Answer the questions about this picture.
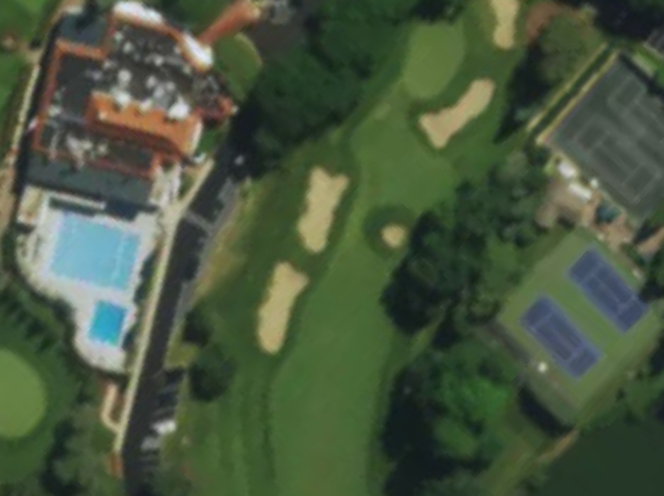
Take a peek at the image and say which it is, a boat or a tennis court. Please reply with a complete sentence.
It is a tennis court that can be seen here.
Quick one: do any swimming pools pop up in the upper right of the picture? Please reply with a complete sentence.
No, in the upper right of the picture there is no swimming pool.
